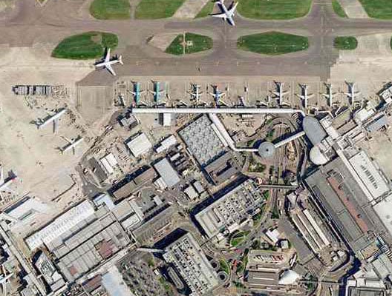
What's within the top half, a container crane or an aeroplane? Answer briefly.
aeroplane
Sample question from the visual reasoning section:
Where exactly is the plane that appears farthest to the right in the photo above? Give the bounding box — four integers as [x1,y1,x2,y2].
[344,82,362,106]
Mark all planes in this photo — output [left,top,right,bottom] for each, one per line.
[95,50,125,75]
[0,275,13,296]
[271,83,289,105]
[149,82,166,104]
[35,107,68,132]
[213,0,240,26]
[129,83,145,104]
[344,82,362,106]
[298,85,315,108]
[322,83,339,106]
[190,84,205,107]
[0,170,19,197]
[59,138,83,156]
[209,84,225,106]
